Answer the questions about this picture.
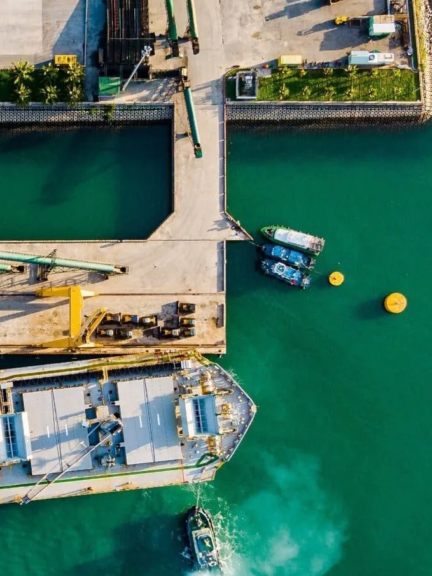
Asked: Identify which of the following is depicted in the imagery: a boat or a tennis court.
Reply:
boat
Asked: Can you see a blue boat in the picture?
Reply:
Yes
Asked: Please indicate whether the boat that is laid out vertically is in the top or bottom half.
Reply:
bottom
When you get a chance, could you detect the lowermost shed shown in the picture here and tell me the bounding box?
[97,76,121,102]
